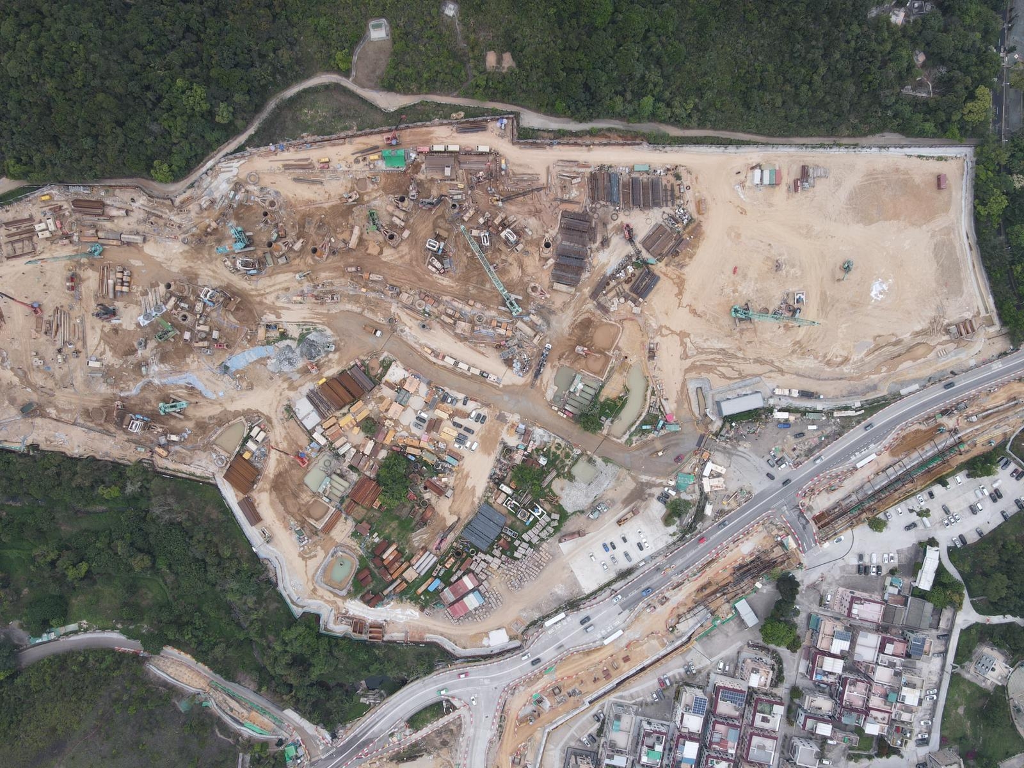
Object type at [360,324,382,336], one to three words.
vehicle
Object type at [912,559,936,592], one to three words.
shed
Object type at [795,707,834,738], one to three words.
house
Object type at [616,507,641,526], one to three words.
vehicle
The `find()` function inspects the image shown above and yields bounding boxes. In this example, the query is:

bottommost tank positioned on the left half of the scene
[319,471,350,502]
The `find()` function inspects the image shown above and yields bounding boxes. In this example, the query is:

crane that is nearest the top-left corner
[24,240,105,267]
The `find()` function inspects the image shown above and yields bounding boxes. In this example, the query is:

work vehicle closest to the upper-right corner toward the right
[838,255,858,281]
